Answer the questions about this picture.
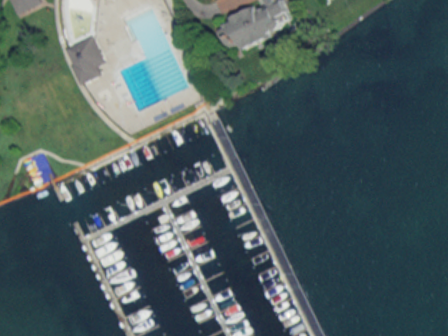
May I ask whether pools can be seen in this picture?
Yes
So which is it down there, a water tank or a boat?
boat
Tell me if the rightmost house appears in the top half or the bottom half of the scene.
top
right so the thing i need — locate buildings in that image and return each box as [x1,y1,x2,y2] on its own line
[218,0,292,50]
[12,0,42,18]
[67,36,105,83]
